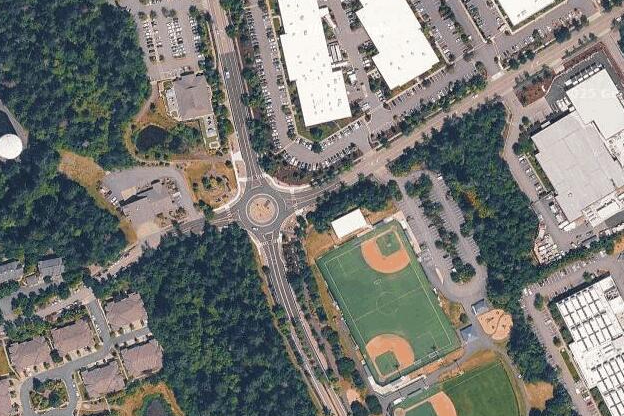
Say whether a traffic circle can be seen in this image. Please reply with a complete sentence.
Yes, a traffic circle is visible in the scene.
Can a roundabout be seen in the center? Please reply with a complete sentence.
Yes, looking in the center, one can make out a roundabout.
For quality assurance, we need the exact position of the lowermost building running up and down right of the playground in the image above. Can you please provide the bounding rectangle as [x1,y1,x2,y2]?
[556,276,624,416]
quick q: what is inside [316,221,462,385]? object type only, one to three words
sports field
